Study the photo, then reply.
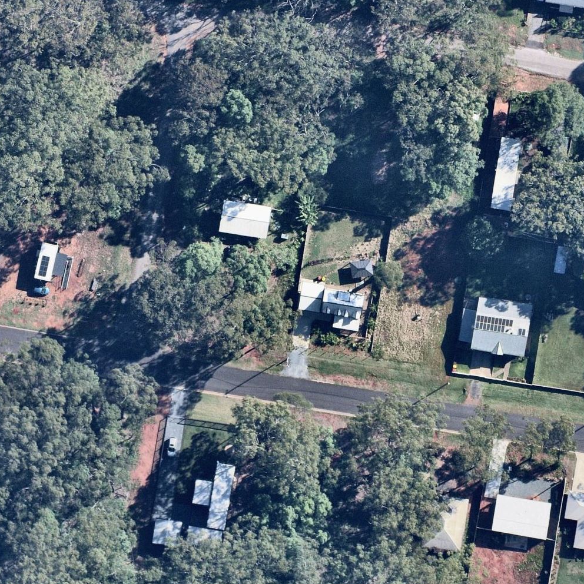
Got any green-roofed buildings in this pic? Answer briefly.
No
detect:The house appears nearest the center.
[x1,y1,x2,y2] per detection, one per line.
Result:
[298,282,364,331]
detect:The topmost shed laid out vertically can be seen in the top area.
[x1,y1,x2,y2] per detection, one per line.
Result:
[491,137,521,211]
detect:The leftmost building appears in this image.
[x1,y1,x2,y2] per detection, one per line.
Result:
[34,242,59,283]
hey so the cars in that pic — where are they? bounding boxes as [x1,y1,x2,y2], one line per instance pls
[33,287,51,296]
[168,437,178,457]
